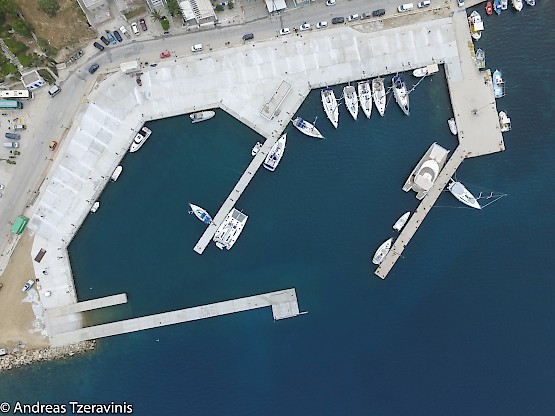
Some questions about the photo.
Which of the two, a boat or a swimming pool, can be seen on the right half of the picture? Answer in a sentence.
The feature located on the right half of the picture is a boat.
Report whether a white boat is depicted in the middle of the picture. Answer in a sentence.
Yes, in the middle of the picture there is a white boat.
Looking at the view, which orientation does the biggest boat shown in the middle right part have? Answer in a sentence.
What the image shows is the biggest boat shown in the middle right part lying on a diagonal.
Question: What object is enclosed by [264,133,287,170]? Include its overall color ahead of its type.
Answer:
white boat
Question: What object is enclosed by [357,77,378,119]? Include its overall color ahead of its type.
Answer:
white boat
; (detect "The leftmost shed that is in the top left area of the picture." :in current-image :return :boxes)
[21,70,46,90]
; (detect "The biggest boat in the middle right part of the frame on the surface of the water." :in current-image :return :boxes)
[401,141,451,200]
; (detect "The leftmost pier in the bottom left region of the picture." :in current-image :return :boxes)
[45,292,129,319]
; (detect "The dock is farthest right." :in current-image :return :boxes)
[373,10,505,279]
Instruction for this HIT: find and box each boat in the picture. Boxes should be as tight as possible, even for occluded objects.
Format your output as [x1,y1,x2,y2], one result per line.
[189,111,214,122]
[372,238,397,264]
[112,166,122,181]
[413,64,441,76]
[291,117,324,138]
[215,209,247,249]
[371,74,393,115]
[401,141,451,200]
[510,0,522,11]
[264,133,287,170]
[253,141,261,154]
[447,117,457,133]
[321,85,339,128]
[357,77,378,119]
[498,111,513,133]
[522,0,534,6]
[501,0,507,11]
[492,0,501,16]
[483,2,491,17]
[476,49,485,69]
[130,127,153,152]
[469,10,485,41]
[491,69,504,99]
[448,180,507,209]
[391,72,427,115]
[189,204,215,224]
[392,212,410,231]
[344,82,362,120]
